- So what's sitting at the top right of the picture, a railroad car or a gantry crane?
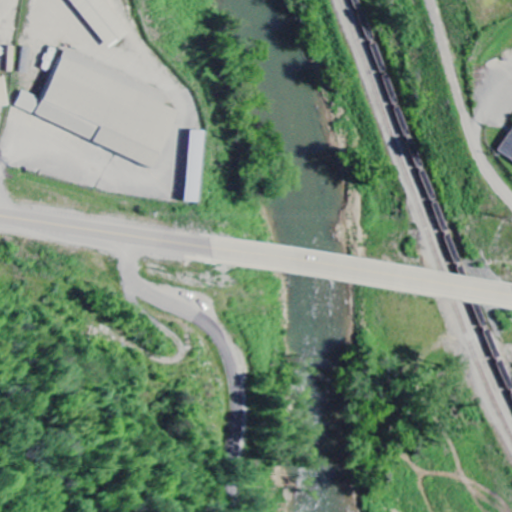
railroad car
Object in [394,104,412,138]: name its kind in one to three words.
rail car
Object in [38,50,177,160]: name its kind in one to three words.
building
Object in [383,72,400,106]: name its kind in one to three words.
rail car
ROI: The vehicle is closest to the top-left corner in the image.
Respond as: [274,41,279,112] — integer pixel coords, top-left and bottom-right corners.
[42,46,56,70]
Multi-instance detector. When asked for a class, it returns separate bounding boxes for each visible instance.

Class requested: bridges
[208,238,512,312]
